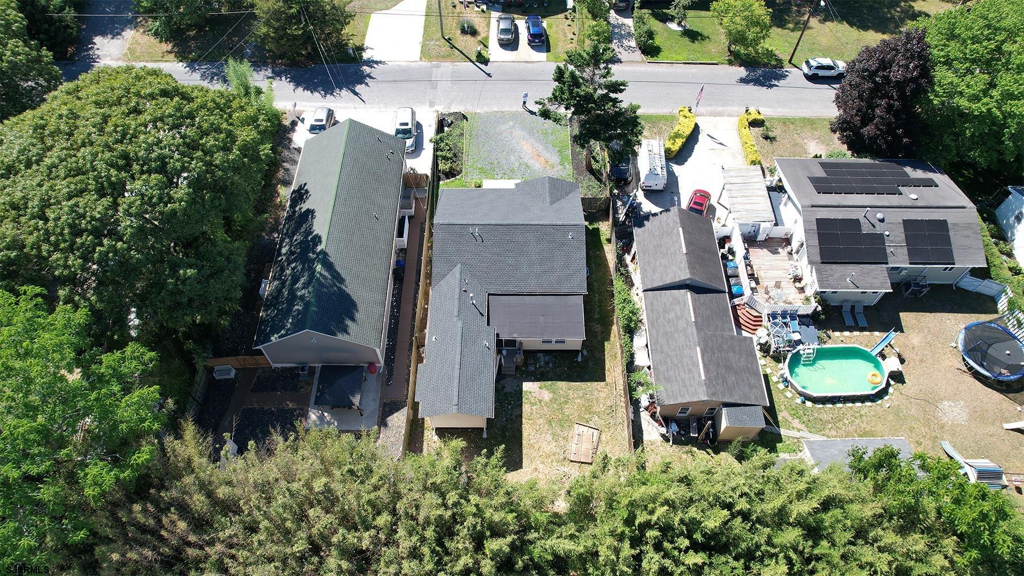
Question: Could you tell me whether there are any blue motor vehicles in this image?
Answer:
Yes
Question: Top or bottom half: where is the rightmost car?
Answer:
top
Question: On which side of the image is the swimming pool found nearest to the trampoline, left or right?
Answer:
right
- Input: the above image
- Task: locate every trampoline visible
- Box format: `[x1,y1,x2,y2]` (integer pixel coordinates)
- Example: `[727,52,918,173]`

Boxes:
[952,304,1024,387]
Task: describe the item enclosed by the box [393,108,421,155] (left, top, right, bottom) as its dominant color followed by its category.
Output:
white car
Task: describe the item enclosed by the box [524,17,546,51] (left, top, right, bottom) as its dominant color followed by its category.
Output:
blue car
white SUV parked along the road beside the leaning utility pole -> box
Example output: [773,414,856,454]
[797,57,850,84]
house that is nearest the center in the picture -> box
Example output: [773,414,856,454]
[415,172,587,429]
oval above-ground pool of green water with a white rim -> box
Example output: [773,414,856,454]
[783,345,889,403]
